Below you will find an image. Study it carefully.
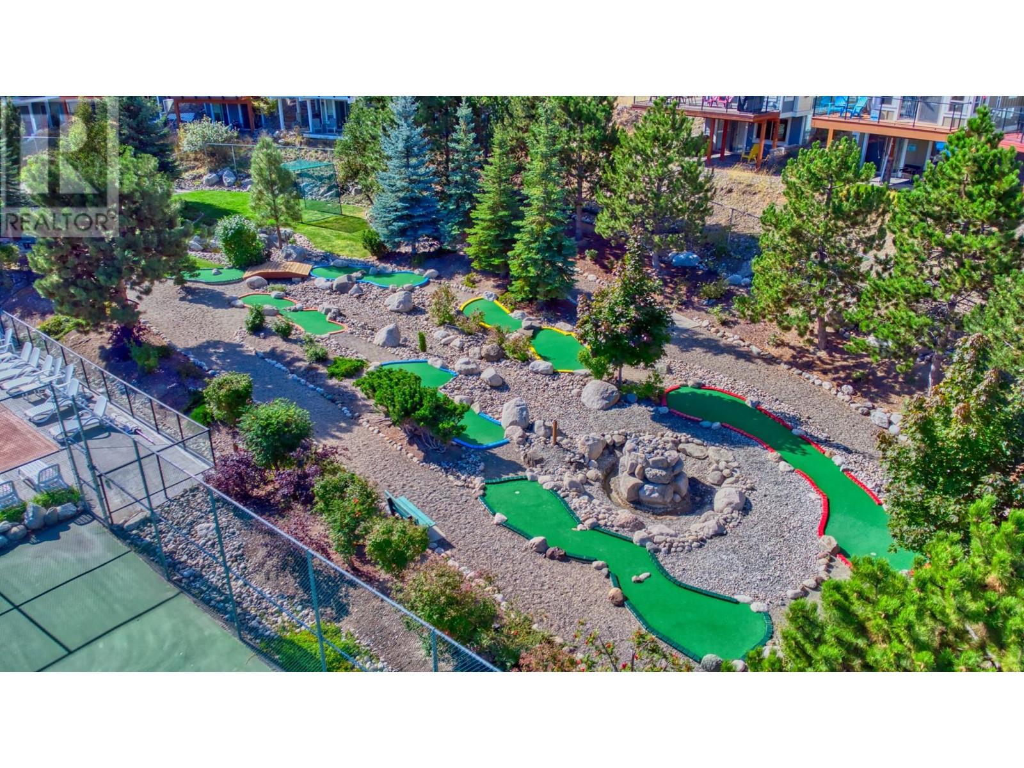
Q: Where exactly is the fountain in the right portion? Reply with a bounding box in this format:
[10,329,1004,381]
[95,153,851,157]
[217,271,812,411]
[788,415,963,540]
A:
[591,429,712,531]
